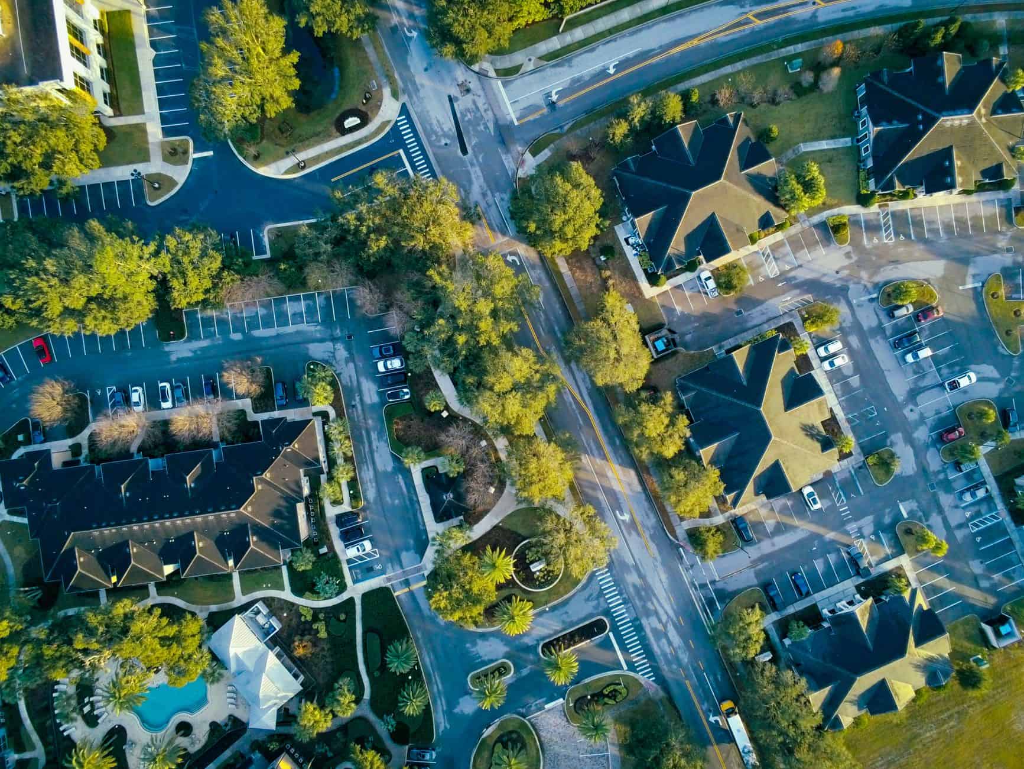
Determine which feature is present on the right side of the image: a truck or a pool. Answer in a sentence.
You can see a truck on the right side of the image.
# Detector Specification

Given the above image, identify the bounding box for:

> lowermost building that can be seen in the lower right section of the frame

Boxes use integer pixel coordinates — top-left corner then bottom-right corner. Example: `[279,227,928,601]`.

[785,586,956,730]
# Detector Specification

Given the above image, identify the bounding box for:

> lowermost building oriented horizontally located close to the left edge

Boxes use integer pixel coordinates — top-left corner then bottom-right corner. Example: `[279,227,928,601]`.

[0,415,326,592]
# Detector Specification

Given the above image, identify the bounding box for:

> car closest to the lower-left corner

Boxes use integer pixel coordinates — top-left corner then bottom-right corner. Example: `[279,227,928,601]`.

[30,420,45,442]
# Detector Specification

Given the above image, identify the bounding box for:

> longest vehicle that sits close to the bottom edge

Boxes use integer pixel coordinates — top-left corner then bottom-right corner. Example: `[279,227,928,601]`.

[718,694,760,768]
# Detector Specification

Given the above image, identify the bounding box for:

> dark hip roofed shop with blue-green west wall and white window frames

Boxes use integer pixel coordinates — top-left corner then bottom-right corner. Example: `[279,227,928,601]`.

[858,51,1024,197]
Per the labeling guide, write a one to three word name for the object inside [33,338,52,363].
car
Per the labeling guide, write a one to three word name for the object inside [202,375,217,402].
car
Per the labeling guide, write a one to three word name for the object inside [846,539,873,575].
truck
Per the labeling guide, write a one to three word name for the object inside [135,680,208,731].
swimming pool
